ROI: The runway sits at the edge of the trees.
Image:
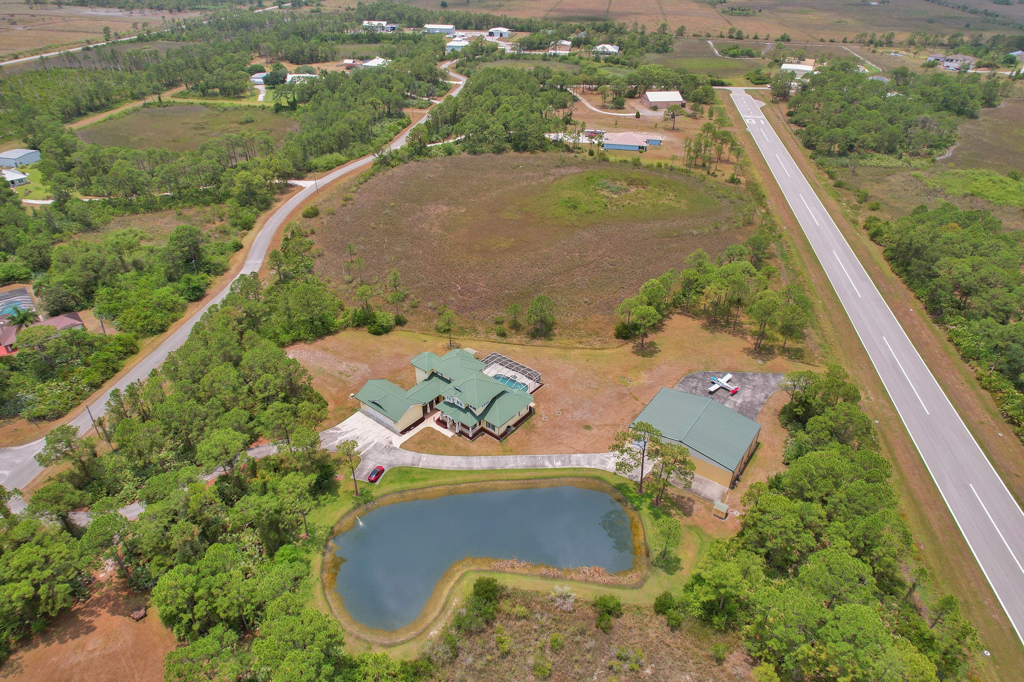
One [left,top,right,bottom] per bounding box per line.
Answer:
[731,93,1024,649]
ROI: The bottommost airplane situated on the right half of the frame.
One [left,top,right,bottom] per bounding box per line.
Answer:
[708,374,740,393]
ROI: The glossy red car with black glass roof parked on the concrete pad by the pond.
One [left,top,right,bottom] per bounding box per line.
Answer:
[368,465,384,482]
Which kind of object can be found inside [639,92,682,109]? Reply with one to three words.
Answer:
barn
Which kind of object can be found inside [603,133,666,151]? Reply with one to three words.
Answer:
house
